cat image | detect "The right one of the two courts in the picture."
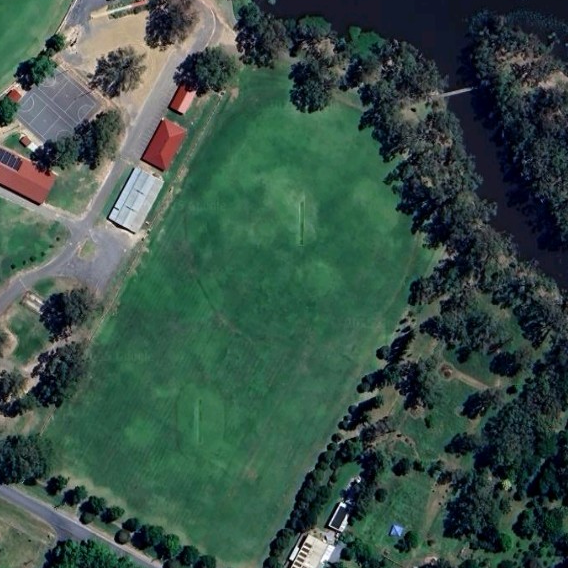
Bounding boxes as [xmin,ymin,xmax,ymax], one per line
[40,69,94,124]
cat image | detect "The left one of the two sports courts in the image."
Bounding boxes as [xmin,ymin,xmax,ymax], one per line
[18,93,61,140]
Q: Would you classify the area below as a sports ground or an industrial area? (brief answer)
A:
sports ground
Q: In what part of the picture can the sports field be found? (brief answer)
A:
center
